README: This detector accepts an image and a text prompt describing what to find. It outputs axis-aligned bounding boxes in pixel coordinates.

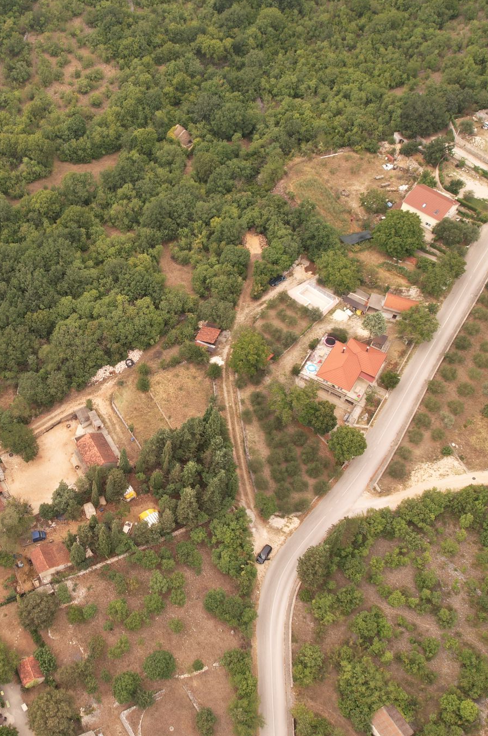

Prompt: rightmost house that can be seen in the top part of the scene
[401,184,458,237]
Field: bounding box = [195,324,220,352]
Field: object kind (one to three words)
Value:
shed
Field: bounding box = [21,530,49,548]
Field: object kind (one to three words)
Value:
vehicle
